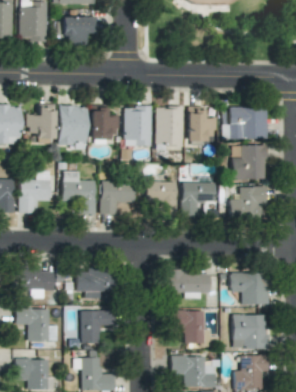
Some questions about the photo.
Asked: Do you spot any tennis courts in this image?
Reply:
No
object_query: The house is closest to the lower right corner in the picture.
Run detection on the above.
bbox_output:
[234,355,270,392]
